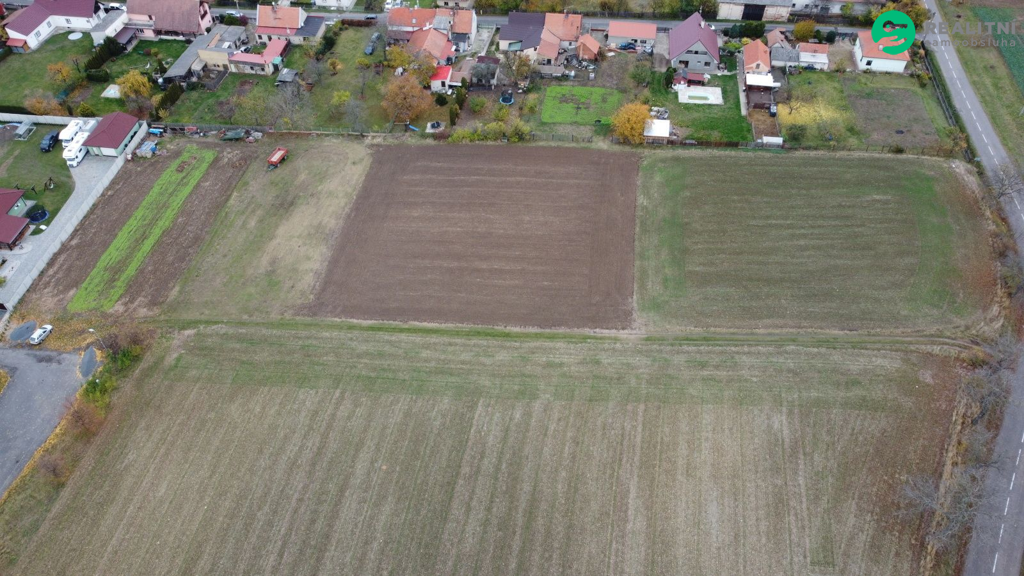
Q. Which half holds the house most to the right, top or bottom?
top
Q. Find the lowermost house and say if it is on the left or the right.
left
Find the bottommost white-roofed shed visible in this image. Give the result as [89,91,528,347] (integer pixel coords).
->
[643,120,670,145]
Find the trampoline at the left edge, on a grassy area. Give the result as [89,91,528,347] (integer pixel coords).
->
[24,204,49,224]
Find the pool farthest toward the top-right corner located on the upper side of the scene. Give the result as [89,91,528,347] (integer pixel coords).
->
[678,86,724,104]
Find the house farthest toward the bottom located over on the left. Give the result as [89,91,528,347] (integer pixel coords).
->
[0,186,33,253]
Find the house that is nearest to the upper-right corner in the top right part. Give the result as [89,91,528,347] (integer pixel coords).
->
[854,33,910,75]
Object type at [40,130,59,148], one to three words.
vehicle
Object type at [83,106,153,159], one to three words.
building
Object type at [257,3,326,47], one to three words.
house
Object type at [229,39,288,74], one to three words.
shed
